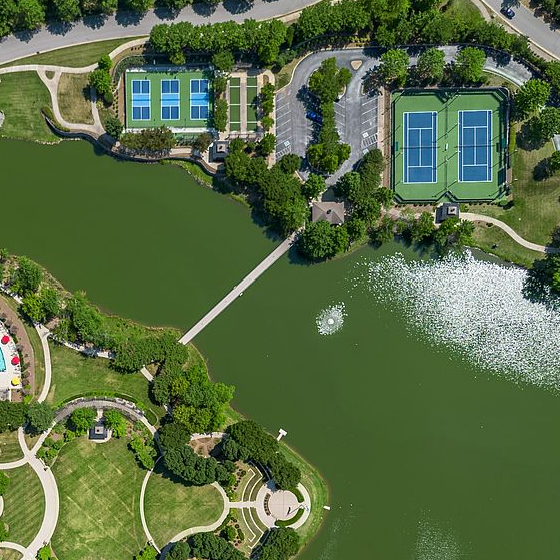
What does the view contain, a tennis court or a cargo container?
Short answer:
tennis court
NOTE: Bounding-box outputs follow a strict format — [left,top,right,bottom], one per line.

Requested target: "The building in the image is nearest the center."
[309,202,344,228]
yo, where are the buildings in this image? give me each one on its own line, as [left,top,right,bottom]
[208,140,230,166]
[89,419,109,439]
[309,202,344,228]
[431,203,461,227]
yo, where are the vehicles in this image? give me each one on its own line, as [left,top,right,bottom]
[307,111,322,122]
[501,6,514,19]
